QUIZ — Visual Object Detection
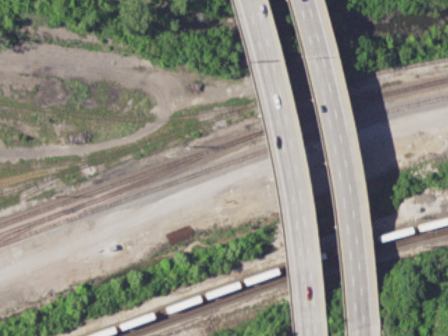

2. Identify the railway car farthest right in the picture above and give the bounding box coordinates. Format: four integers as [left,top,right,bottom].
[417,218,448,232]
